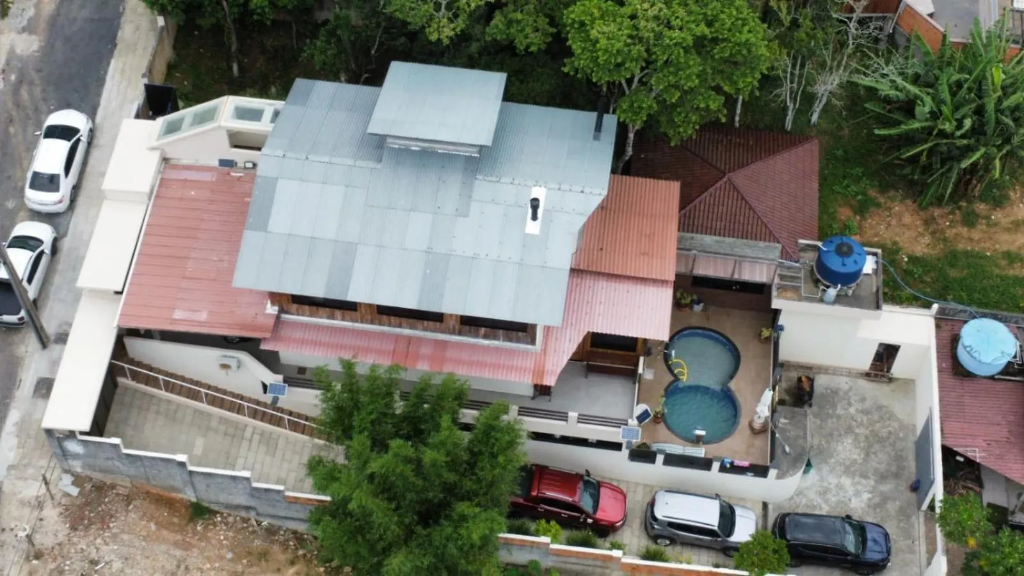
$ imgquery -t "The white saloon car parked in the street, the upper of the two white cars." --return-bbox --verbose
[20,114,92,215]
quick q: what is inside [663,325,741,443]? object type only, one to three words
swimming pool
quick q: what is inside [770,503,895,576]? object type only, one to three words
car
